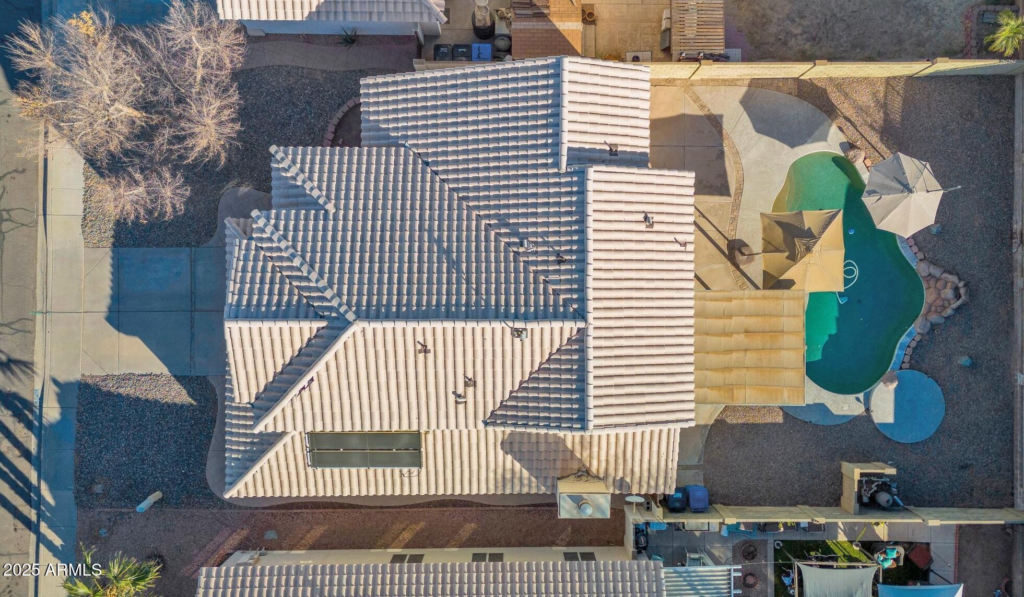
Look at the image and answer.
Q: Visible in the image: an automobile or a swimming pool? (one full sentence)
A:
I can see a swimming pool in this picture.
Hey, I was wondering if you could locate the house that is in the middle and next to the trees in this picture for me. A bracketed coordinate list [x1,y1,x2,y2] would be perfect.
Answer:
[223,56,697,520]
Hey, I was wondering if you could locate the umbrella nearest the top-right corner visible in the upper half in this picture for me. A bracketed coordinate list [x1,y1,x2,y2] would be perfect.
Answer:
[861,153,963,238]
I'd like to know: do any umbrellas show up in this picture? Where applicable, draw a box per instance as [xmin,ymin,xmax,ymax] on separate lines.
[861,153,963,238]
[729,210,844,292]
